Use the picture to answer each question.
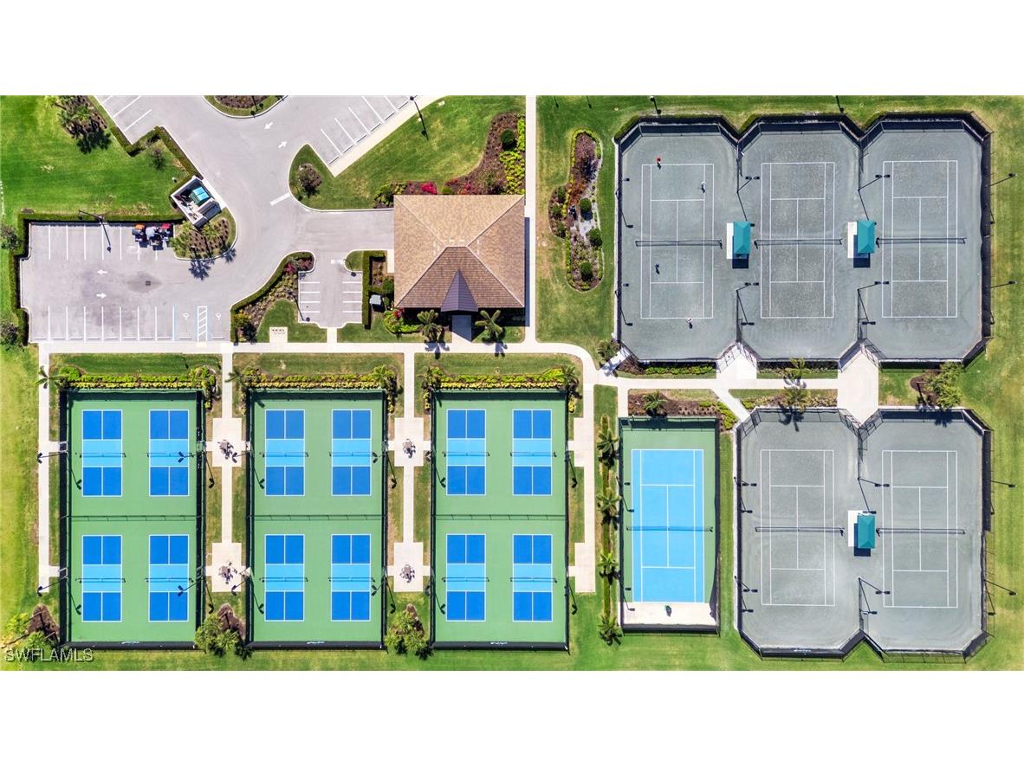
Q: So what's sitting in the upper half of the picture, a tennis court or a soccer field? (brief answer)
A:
tennis court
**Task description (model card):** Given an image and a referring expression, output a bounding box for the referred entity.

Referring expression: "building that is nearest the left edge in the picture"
[394,194,524,314]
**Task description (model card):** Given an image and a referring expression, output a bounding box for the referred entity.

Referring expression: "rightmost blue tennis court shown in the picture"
[618,416,716,625]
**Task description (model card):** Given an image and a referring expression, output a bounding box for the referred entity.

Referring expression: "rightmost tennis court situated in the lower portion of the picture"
[859,410,983,650]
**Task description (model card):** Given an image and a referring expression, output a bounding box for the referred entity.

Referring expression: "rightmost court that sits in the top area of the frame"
[859,120,982,359]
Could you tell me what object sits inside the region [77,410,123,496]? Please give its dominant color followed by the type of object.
blue sports court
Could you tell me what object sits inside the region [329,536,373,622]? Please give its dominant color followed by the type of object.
blue sports court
